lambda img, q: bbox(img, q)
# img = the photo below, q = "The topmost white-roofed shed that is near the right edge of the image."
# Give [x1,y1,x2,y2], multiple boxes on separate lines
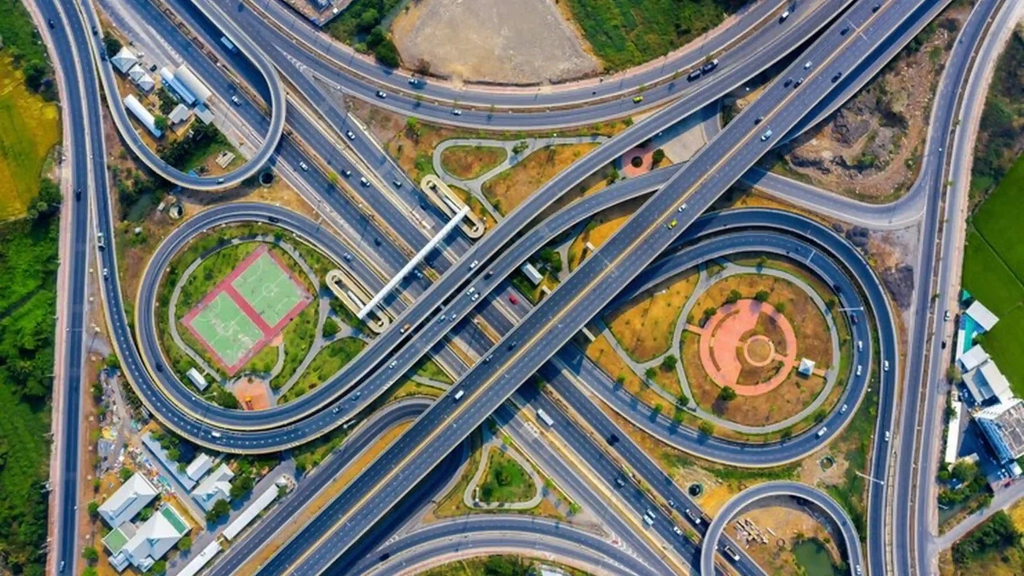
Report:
[960,300,1000,331]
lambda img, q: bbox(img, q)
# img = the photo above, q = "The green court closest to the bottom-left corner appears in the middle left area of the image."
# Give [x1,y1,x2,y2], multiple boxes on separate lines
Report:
[181,283,272,376]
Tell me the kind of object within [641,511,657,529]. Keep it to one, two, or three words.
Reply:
vehicle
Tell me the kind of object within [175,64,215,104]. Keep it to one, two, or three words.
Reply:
shed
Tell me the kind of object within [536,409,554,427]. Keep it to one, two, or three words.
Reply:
vehicle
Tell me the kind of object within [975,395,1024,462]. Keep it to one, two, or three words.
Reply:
building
